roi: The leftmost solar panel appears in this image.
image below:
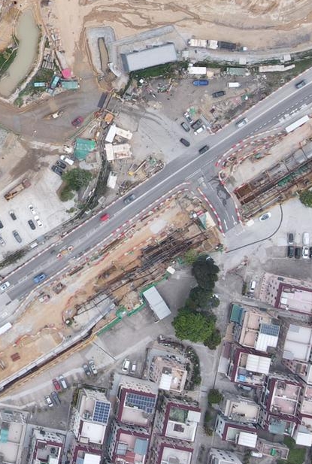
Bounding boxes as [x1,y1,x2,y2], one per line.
[93,398,114,429]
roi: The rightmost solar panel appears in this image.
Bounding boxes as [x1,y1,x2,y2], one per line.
[262,320,283,335]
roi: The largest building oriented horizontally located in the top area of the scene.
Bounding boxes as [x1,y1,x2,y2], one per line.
[118,43,177,72]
